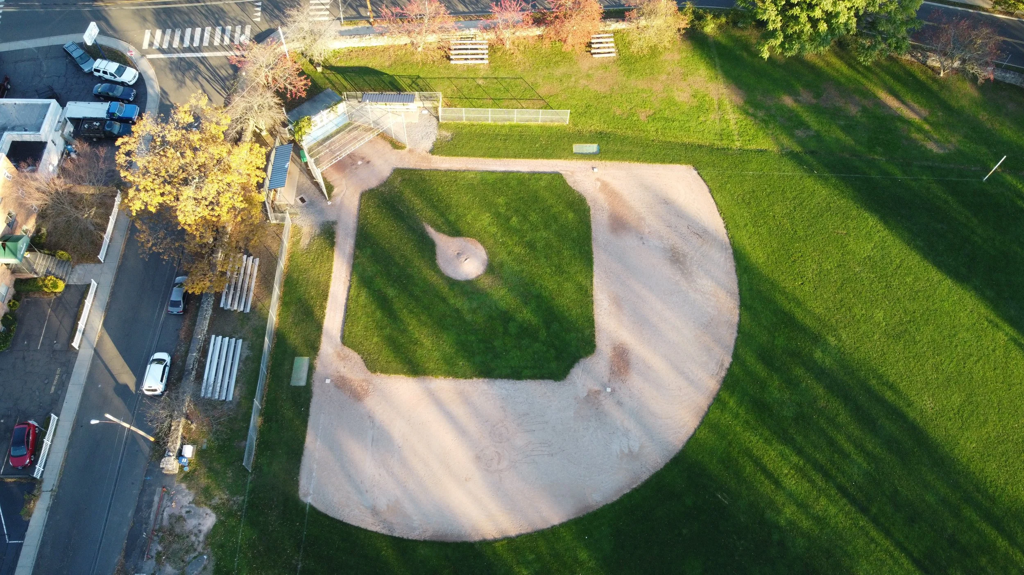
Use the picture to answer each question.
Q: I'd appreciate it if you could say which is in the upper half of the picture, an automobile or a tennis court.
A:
automobile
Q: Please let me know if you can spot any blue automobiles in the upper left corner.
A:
Yes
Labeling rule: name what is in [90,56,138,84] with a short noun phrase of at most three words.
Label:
car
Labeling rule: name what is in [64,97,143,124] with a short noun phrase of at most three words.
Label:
truck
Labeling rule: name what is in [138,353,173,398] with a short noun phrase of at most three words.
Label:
car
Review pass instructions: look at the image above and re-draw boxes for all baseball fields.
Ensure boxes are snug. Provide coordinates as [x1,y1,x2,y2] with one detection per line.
[235,124,983,575]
